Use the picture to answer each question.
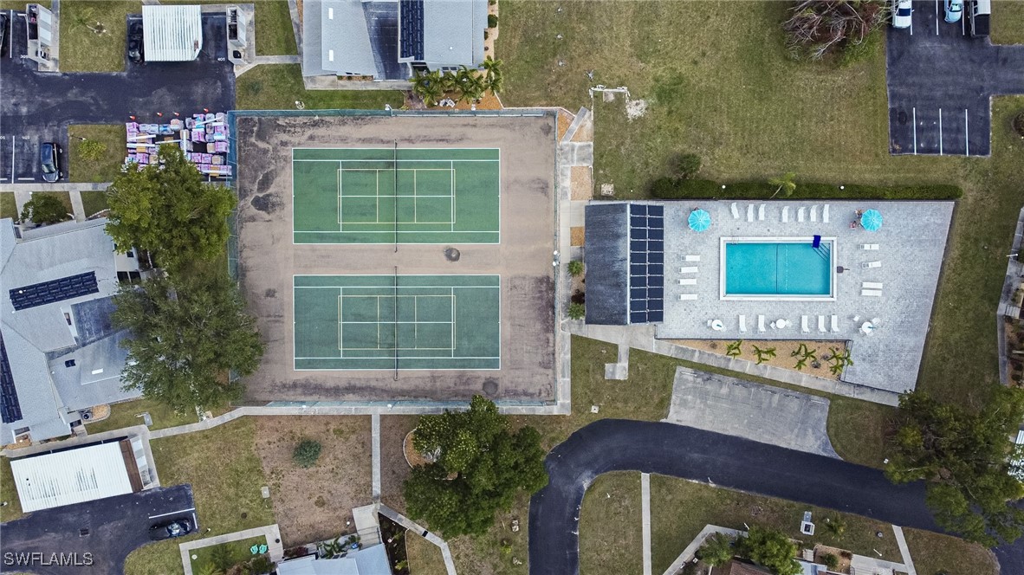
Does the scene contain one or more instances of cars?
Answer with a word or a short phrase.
Yes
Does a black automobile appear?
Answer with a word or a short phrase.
Yes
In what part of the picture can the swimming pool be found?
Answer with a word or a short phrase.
right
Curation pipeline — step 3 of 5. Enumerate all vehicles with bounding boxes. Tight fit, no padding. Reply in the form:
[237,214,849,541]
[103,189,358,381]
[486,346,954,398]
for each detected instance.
[36,142,60,181]
[149,518,198,541]
[968,0,992,35]
[889,0,911,27]
[940,0,962,20]
[126,20,145,63]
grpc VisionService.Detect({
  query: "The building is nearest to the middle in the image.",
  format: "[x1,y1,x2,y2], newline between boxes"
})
[585,202,664,326]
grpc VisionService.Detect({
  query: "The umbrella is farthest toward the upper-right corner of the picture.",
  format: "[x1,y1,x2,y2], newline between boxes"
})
[858,210,880,232]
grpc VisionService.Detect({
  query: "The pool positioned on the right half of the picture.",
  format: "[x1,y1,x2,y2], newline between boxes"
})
[721,237,838,301]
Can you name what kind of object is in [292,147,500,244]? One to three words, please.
tennis court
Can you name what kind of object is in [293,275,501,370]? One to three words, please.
tennis court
